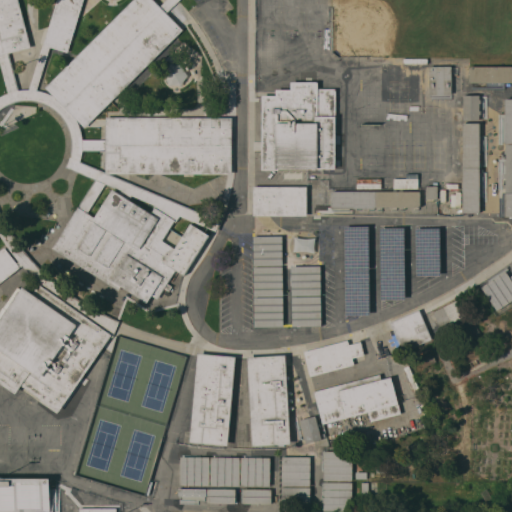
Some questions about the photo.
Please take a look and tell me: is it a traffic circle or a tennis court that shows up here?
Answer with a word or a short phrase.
tennis court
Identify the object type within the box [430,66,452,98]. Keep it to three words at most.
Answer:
building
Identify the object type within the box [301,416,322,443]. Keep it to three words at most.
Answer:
shed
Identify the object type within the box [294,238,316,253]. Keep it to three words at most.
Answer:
tent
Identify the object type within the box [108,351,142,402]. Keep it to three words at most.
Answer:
tennis court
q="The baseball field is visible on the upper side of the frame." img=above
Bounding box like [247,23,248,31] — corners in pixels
[332,0,512,66]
